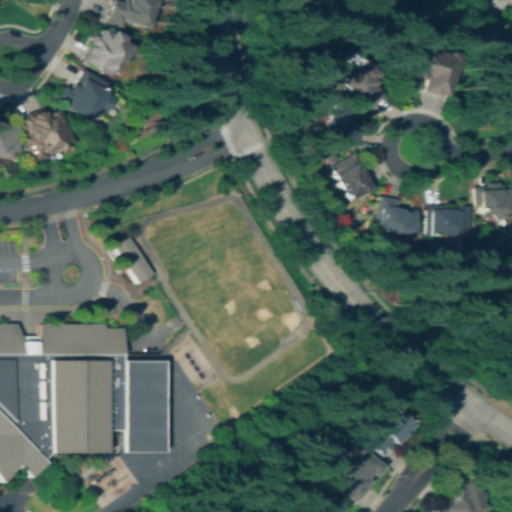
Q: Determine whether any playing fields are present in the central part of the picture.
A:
Yes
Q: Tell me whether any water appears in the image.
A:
No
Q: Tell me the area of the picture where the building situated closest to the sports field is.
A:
left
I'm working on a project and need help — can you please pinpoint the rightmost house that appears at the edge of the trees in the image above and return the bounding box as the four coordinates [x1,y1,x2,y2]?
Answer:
[472,184,512,218]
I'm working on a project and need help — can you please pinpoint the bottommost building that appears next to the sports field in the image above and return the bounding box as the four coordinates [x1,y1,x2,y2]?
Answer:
[0,324,170,484]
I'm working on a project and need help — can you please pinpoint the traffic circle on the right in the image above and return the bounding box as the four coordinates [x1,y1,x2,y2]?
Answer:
[388,115,454,184]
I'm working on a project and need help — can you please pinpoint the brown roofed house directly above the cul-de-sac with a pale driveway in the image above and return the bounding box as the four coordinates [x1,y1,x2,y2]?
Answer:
[428,50,464,95]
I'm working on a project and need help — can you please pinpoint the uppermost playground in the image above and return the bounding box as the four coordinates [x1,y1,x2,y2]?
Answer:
[174,334,218,388]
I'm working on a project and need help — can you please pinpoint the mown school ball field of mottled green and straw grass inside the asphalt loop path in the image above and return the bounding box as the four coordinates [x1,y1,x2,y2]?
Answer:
[144,202,300,376]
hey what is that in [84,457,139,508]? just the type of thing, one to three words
playground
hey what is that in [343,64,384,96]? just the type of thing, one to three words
house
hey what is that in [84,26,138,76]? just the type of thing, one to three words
house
